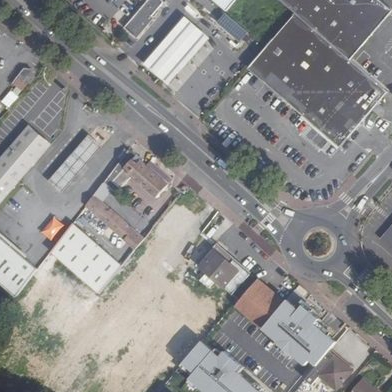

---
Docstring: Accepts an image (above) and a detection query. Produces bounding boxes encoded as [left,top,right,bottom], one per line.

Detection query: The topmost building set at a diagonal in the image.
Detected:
[124,0,164,40]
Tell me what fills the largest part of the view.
paved ground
